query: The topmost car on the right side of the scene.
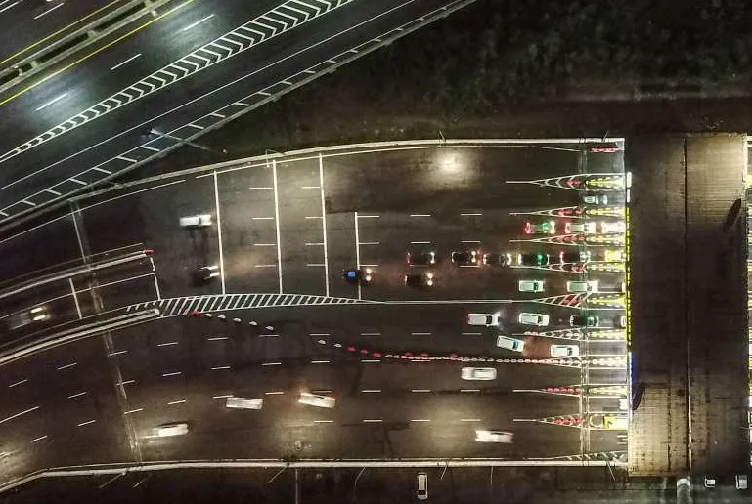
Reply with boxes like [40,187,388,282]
[585,192,609,206]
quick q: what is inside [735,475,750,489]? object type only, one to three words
vehicle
